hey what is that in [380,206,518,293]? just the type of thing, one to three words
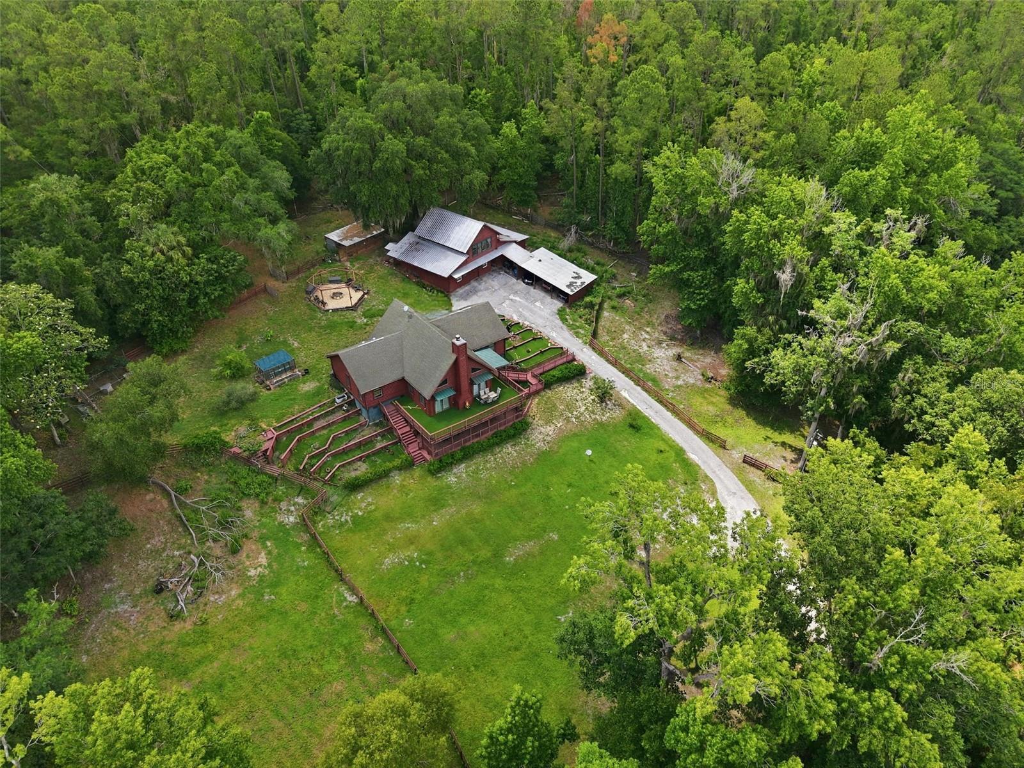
barn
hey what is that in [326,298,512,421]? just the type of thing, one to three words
house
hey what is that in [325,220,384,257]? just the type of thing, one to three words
shed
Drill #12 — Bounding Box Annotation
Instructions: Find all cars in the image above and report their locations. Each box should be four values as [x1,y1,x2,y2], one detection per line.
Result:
[558,292,569,303]
[524,273,542,285]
